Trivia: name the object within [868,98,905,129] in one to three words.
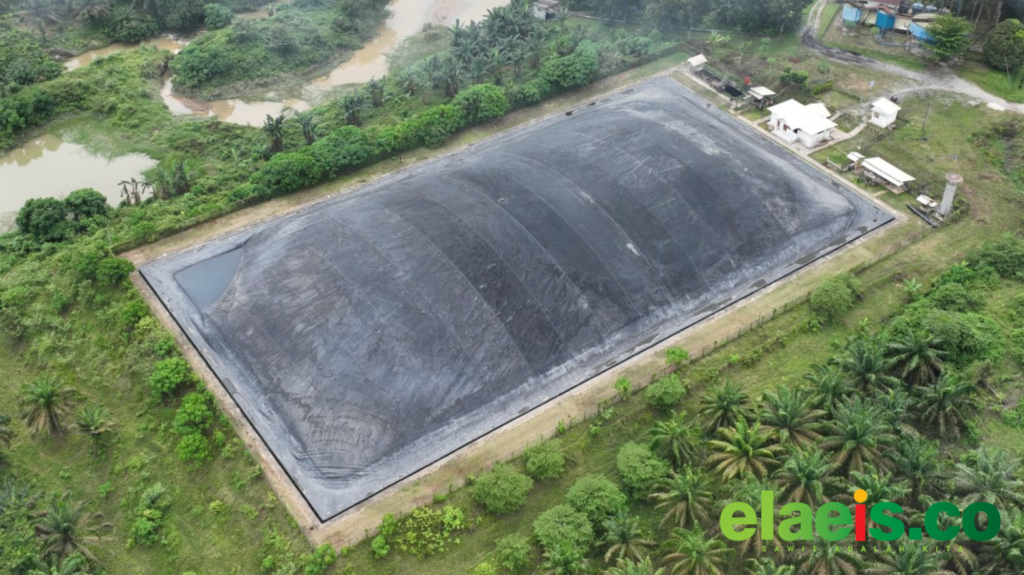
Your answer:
shed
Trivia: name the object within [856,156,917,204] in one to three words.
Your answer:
shed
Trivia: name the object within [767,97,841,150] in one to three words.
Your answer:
house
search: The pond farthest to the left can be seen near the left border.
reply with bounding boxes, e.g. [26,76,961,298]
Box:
[0,135,152,238]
